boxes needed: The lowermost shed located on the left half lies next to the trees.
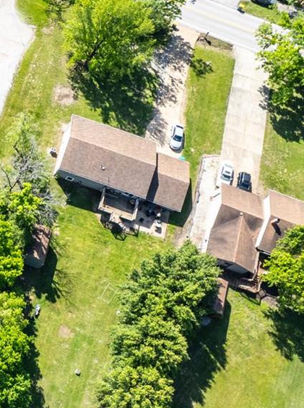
[24,225,54,264]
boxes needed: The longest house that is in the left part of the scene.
[53,114,184,212]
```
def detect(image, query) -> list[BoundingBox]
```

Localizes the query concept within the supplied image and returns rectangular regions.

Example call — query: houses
[53,114,184,212]
[201,184,304,268]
